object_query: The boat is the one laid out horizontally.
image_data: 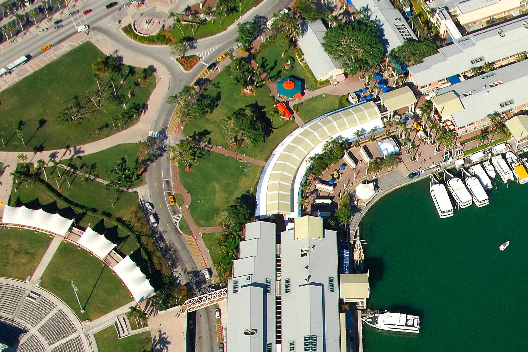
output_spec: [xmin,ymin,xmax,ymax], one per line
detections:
[362,312,422,330]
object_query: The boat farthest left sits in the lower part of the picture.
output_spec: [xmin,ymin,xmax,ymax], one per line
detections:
[345,221,372,273]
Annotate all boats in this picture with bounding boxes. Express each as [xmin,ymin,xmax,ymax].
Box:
[430,173,451,219]
[444,167,471,211]
[496,158,514,185]
[510,154,528,186]
[484,161,496,180]
[462,167,488,210]
[499,241,509,253]
[469,157,494,191]
[362,312,422,330]
[345,221,372,273]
